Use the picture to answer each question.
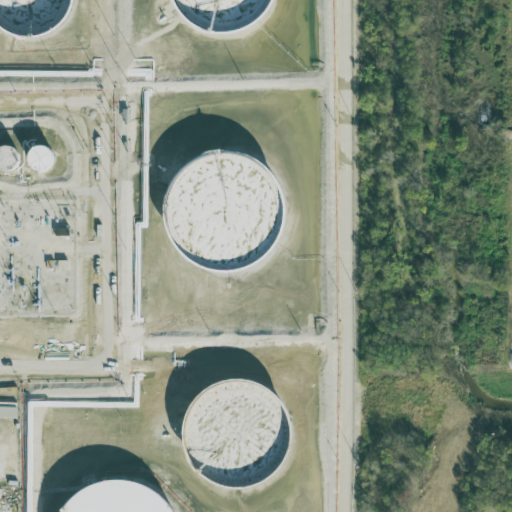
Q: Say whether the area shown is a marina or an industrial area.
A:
industrial area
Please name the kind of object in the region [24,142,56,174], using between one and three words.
storage tank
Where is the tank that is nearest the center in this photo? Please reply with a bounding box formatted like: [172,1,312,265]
[165,150,284,270]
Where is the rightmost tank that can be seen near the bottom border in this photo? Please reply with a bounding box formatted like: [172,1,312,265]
[182,380,292,490]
